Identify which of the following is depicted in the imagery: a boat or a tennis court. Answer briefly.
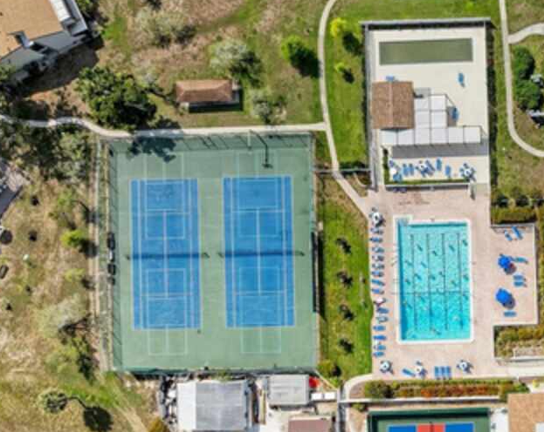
tennis court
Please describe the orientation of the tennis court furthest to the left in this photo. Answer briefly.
vertically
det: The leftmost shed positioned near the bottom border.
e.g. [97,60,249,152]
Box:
[177,379,255,432]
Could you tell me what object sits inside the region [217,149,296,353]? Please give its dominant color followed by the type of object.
blue tennis court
